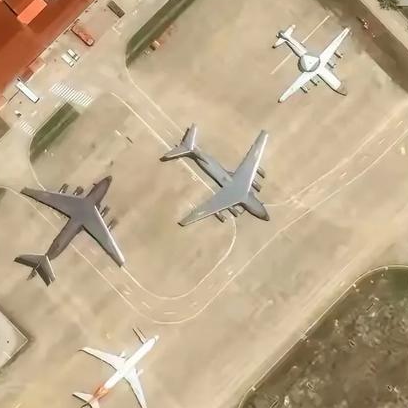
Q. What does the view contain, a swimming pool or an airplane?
airplane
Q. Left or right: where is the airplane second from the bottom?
left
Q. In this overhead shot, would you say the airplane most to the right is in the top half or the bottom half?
top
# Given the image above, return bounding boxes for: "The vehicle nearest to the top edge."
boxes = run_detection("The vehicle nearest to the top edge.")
[107,0,125,17]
